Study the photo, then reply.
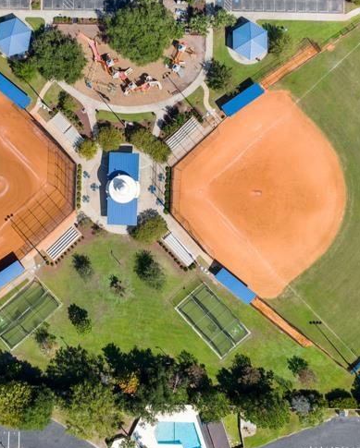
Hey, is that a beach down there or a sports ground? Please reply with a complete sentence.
It's a sports ground.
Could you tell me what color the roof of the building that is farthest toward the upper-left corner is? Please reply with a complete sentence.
The roof of the building that is farthest toward the upper-left corner is blue.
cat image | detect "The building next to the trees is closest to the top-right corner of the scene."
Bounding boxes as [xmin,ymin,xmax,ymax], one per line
[232,21,269,62]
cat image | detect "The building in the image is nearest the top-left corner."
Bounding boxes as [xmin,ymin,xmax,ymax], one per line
[0,16,32,57]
